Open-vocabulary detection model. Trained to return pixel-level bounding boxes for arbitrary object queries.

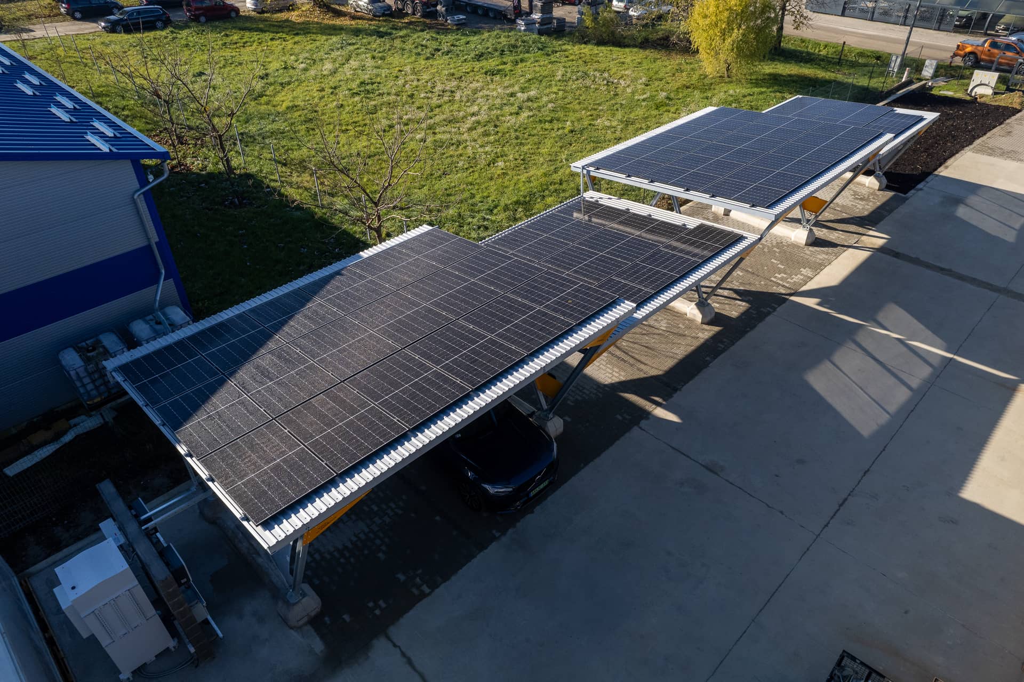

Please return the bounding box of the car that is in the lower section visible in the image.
[427,392,563,509]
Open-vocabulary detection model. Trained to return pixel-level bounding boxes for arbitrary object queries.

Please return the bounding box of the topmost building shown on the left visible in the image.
[0,45,197,422]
